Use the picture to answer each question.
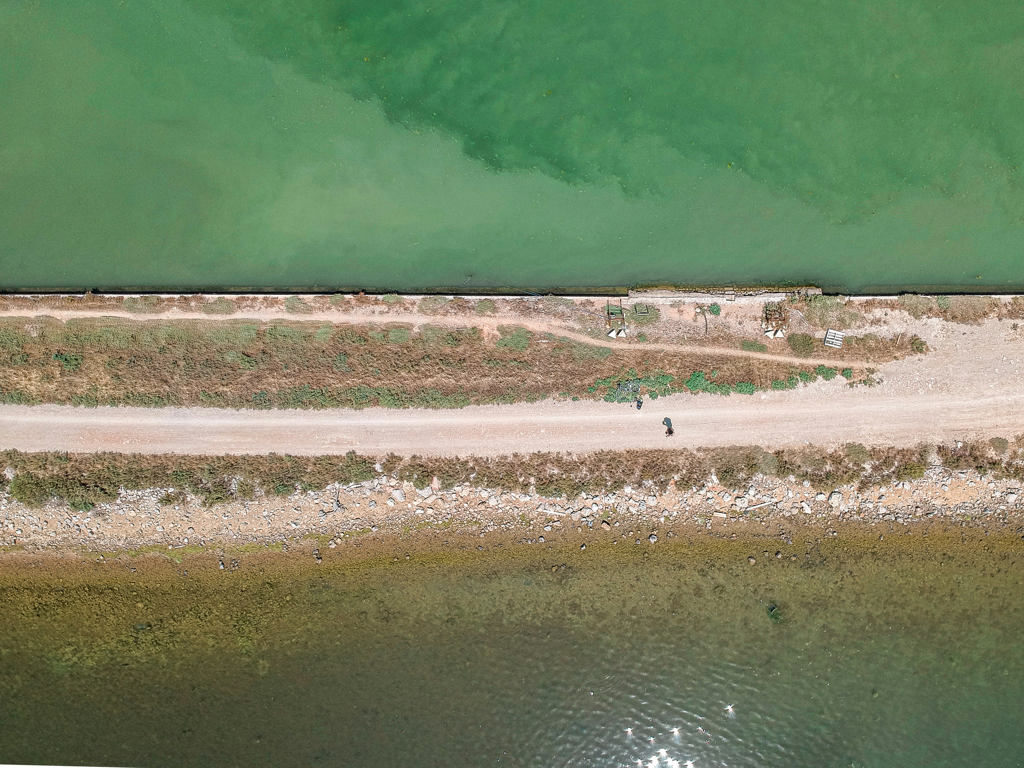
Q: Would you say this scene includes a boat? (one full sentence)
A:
No, there isn't any boat down there.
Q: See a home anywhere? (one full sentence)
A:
No, I can't see a single home in this photo.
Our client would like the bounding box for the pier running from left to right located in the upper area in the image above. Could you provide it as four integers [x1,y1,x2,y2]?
[627,285,822,304]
